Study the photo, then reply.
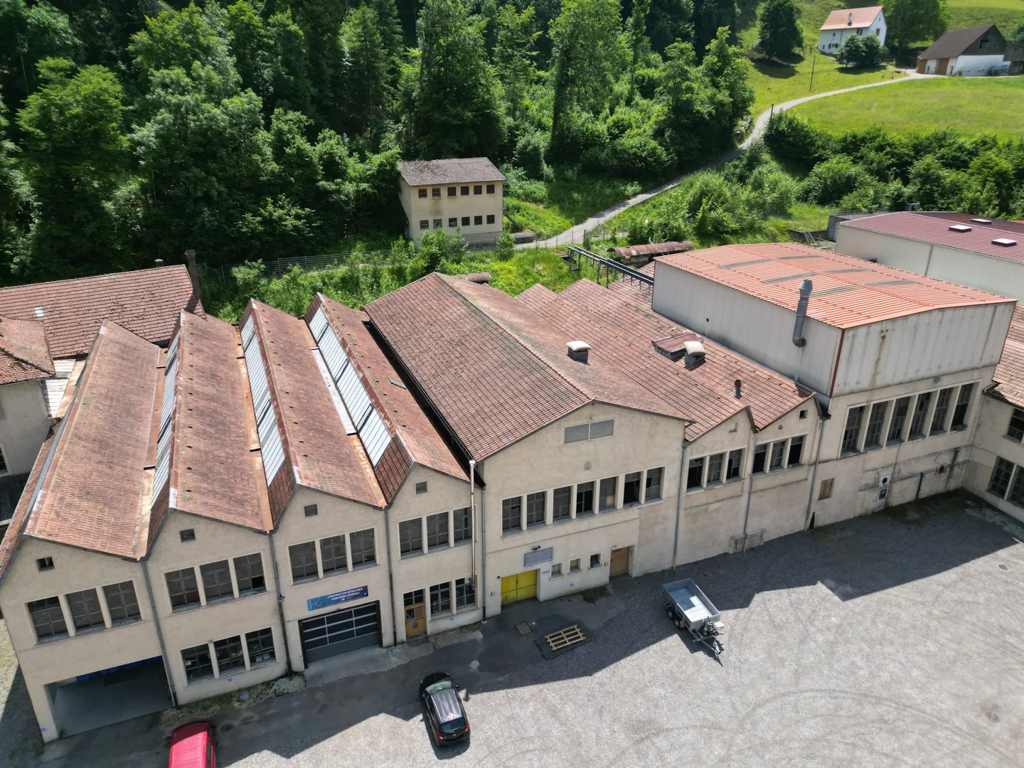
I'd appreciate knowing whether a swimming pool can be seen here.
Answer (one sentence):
No, no swimming pool can be seen from above.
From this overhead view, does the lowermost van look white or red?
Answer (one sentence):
The color of the lowermost van is red.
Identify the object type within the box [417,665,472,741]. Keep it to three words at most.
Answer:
car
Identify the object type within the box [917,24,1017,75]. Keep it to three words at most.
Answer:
barn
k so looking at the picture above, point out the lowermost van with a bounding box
[163,712,220,768]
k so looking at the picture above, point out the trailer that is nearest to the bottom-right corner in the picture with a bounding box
[661,578,727,663]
